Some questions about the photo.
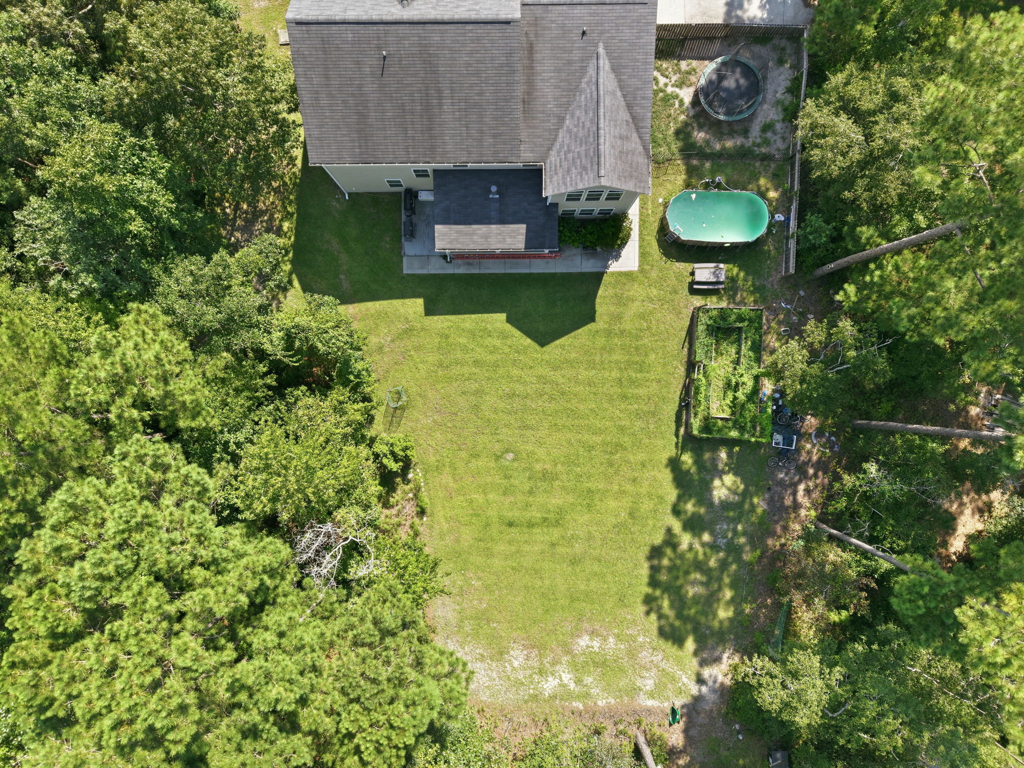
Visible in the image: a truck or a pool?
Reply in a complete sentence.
Looking from above, you can make out a pool.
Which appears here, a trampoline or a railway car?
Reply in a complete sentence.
The one in the frame is a trampoline.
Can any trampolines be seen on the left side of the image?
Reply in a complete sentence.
No, looking on the left side of the image, there is no trampoline.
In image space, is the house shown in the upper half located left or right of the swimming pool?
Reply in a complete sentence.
Relative to the swimming pool, the house shown in the upper half is on the left.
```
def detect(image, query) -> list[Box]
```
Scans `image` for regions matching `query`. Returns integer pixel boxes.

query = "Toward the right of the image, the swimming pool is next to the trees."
[661,190,768,253]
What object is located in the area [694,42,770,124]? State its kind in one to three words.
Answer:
trampoline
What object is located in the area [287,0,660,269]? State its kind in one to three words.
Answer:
house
